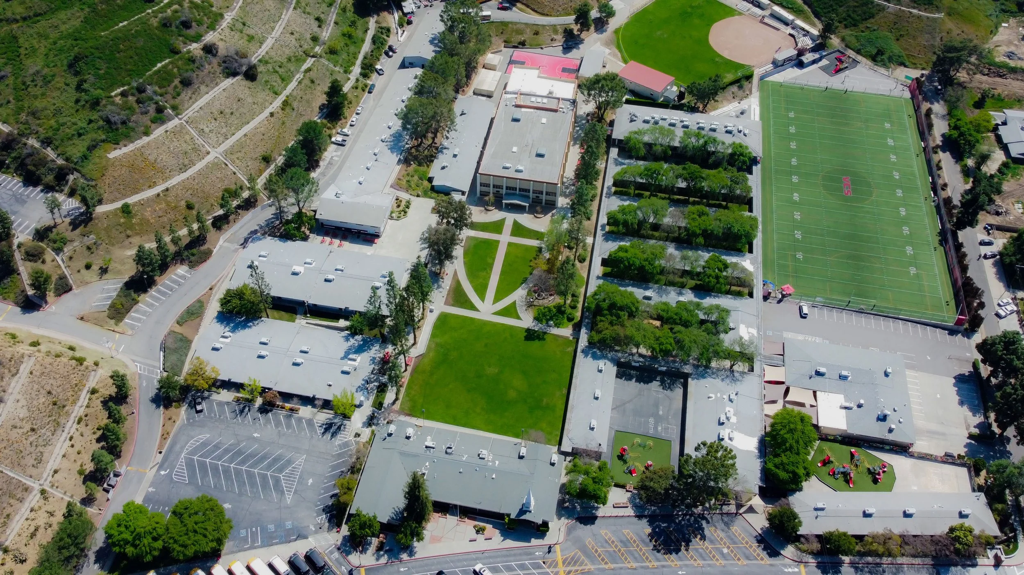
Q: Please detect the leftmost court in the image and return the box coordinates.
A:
[506,50,580,79]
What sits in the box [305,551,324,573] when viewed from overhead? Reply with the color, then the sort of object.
black vehicle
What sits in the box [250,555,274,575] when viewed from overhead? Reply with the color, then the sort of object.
white bus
